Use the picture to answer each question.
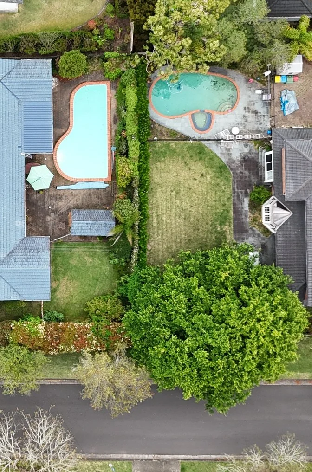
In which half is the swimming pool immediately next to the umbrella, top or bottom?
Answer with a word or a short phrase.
top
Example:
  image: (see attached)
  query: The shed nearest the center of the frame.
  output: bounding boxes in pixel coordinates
[71,210,115,236]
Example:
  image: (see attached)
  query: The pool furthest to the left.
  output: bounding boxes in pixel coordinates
[52,81,111,182]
